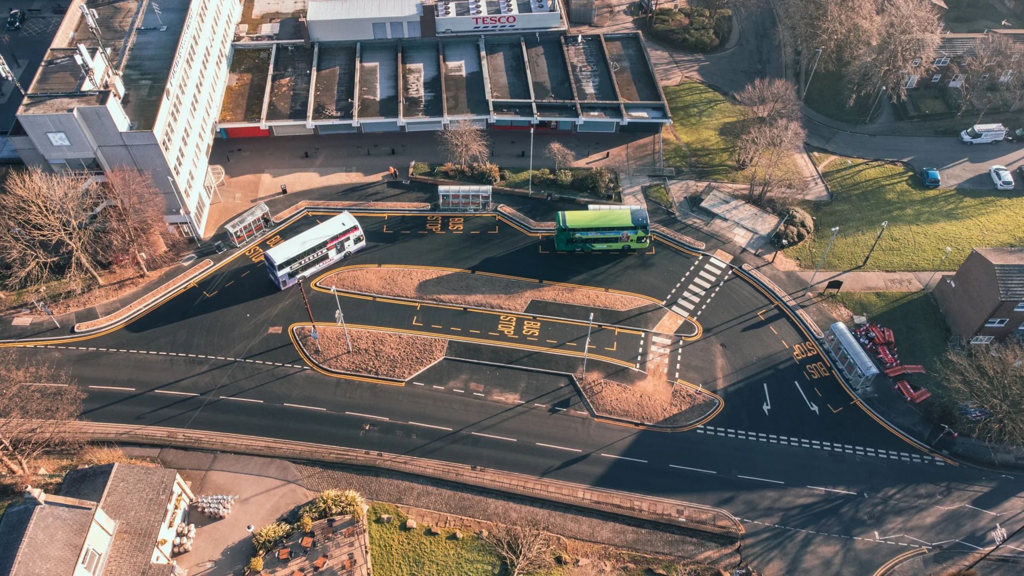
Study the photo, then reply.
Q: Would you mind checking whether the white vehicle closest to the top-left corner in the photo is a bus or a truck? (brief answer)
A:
bus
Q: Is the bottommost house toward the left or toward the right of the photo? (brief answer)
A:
left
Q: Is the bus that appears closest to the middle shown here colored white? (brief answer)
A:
No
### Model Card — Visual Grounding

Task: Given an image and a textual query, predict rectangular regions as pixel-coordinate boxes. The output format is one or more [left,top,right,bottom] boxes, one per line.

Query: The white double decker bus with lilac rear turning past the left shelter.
[258,209,370,291]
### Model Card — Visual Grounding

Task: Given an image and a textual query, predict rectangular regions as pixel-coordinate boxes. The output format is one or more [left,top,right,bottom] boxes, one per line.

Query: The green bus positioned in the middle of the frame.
[555,209,655,252]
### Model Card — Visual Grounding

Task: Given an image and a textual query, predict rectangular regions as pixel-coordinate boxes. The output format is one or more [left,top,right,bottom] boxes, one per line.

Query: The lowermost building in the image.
[0,459,197,576]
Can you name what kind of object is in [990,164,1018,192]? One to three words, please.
car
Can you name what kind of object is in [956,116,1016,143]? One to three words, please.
vehicle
